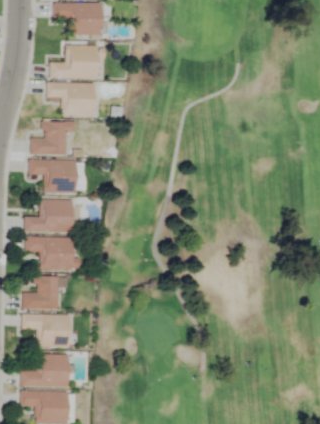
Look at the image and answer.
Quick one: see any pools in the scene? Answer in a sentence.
Yes, you can see a pool in this photo.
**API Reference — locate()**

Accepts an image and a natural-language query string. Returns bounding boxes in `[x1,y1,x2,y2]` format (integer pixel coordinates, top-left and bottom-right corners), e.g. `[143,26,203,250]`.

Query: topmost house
[52,2,103,35]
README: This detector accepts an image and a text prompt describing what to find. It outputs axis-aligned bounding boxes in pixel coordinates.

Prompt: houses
[28,160,76,192]
[52,2,103,35]
[46,83,98,117]
[20,314,72,350]
[22,278,68,310]
[30,122,75,154]
[20,392,70,424]
[24,200,73,232]
[48,45,100,80]
[20,354,69,388]
[24,236,80,273]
